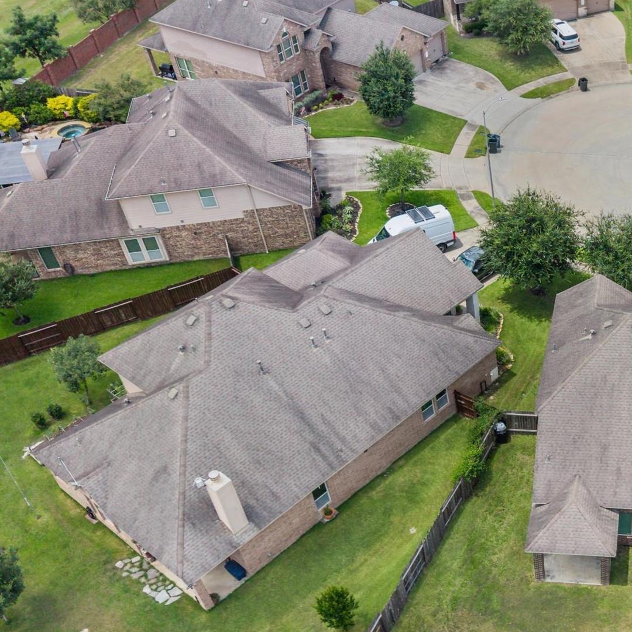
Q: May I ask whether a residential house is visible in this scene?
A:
Yes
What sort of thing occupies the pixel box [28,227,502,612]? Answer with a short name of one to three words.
house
